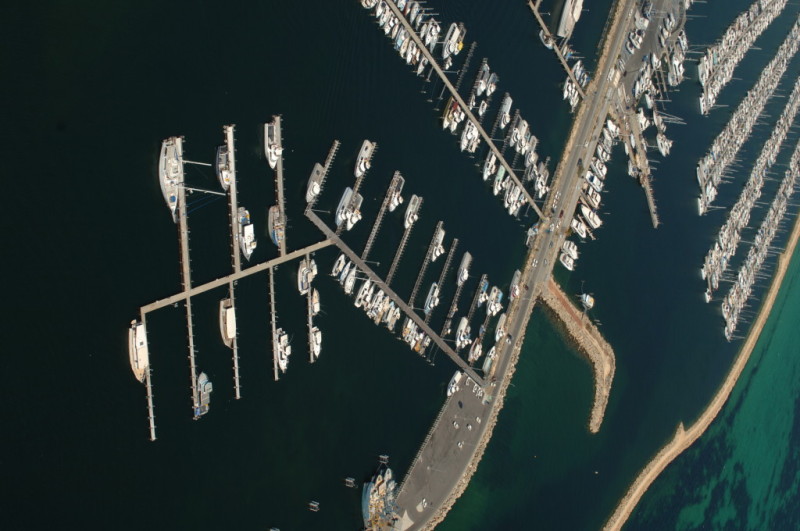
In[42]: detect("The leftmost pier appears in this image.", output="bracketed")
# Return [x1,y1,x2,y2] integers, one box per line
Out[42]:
[139,315,158,440]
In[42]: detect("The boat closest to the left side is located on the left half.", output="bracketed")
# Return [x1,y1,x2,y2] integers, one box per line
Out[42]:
[128,321,152,383]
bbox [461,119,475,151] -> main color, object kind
white boat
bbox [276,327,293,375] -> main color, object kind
white boat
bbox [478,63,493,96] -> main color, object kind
gray boat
